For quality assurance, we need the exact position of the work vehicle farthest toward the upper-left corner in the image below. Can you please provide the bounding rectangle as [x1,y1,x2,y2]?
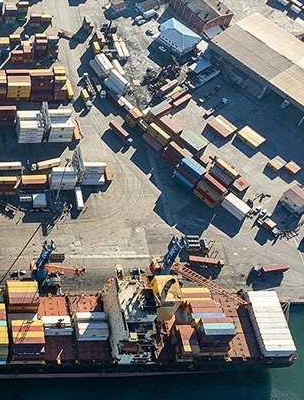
[48,15,74,39]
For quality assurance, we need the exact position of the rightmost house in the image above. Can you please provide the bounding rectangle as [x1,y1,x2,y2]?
[278,184,304,219]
